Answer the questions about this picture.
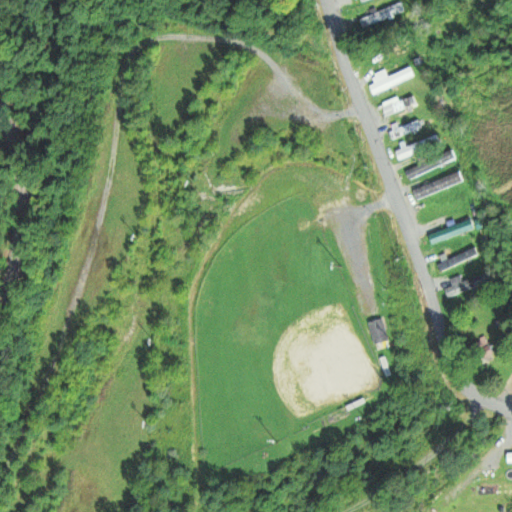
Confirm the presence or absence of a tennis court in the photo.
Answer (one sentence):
No, no tennis court is visible in the view.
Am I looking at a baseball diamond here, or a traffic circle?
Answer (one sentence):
Visible in the photo is a baseball diamond.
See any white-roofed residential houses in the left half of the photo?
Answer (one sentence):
No, no white-roofed residential house can be made out in the left half of the photo.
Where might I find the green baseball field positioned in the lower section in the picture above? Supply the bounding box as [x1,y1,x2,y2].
[196,193,384,474]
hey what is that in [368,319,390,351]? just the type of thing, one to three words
building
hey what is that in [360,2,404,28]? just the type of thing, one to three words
house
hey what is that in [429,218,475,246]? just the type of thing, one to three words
house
